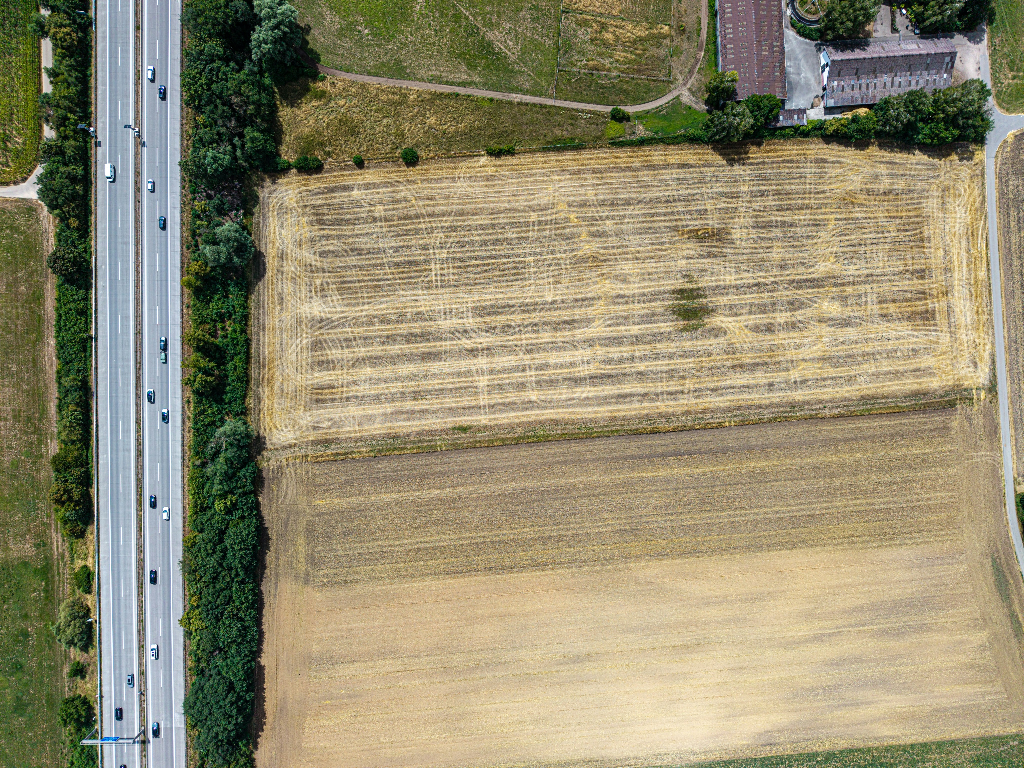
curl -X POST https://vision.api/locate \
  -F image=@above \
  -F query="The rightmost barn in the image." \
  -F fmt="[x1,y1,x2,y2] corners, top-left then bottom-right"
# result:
[818,39,957,111]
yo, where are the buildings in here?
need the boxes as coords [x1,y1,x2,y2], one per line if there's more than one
[714,0,788,104]
[818,39,957,111]
[774,109,807,128]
